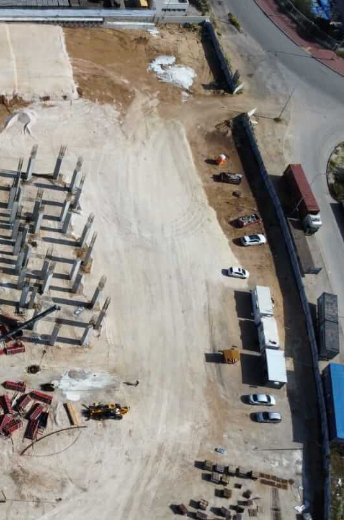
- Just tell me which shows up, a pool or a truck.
truck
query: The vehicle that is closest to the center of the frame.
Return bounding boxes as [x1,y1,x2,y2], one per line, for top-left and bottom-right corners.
[226,265,252,279]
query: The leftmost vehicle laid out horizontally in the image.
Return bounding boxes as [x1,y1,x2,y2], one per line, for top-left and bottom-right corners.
[80,401,133,422]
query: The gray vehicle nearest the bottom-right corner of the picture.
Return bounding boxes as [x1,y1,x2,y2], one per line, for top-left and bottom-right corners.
[253,409,285,423]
